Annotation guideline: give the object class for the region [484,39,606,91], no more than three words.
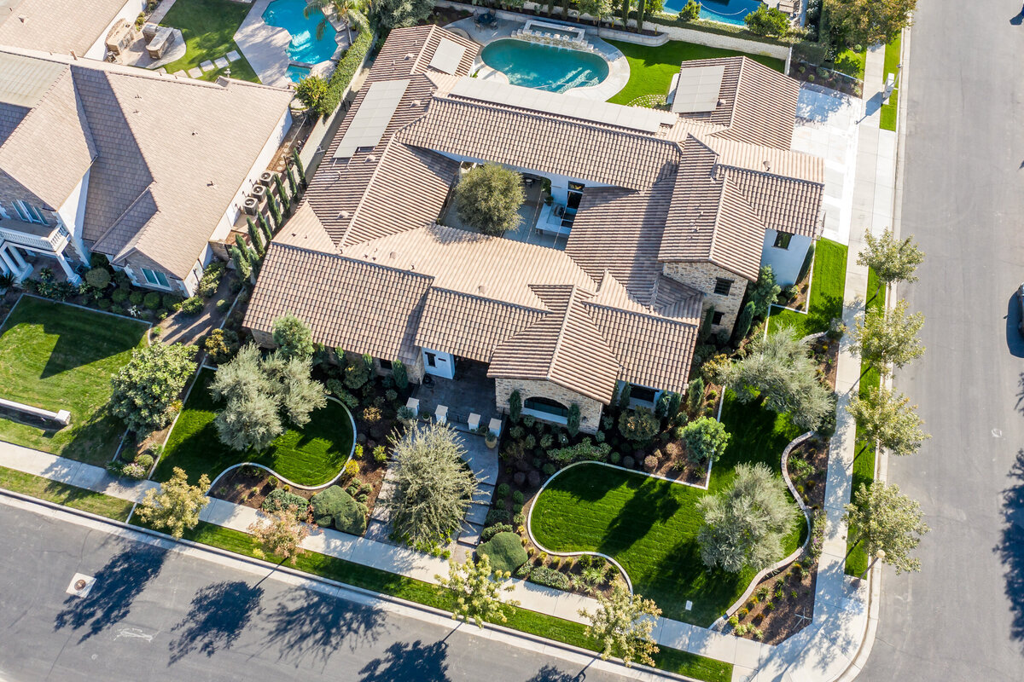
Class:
swimming pool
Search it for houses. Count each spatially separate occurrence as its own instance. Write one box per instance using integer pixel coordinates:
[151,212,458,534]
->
[241,22,826,434]
[0,0,296,300]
